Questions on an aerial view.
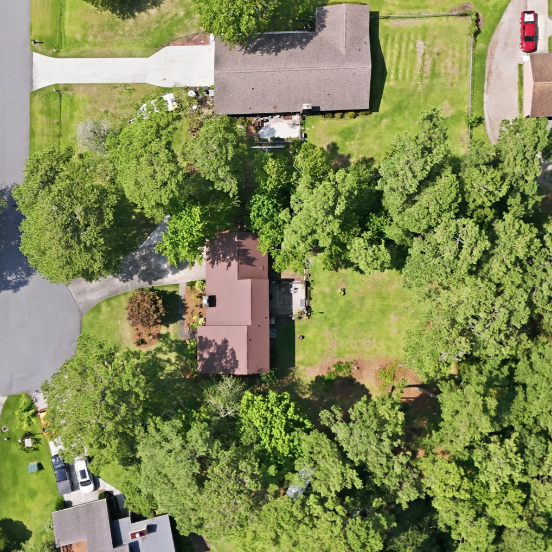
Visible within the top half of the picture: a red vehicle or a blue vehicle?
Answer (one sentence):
There is a red vehicle within the top half of the picture.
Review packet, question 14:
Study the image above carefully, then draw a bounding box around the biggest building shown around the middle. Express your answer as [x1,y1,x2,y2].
[196,231,270,374]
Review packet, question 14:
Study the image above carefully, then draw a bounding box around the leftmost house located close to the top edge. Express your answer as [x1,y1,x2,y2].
[214,3,372,119]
